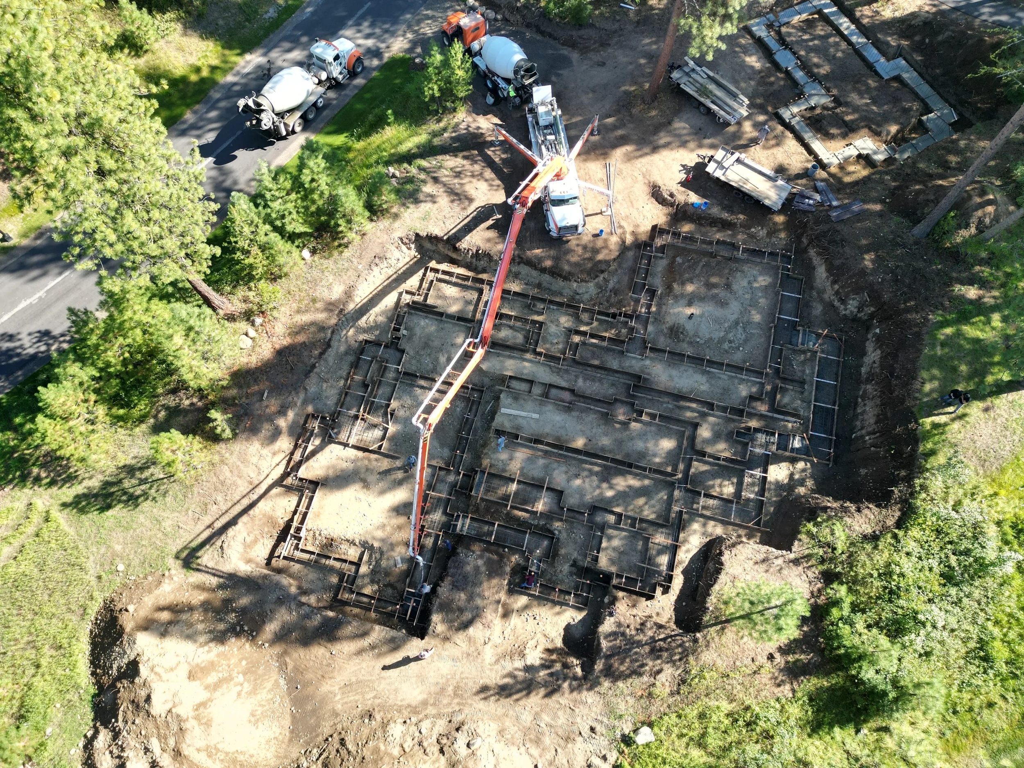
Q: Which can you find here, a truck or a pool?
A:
truck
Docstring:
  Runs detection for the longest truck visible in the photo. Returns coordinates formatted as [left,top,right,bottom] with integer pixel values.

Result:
[404,64,615,584]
